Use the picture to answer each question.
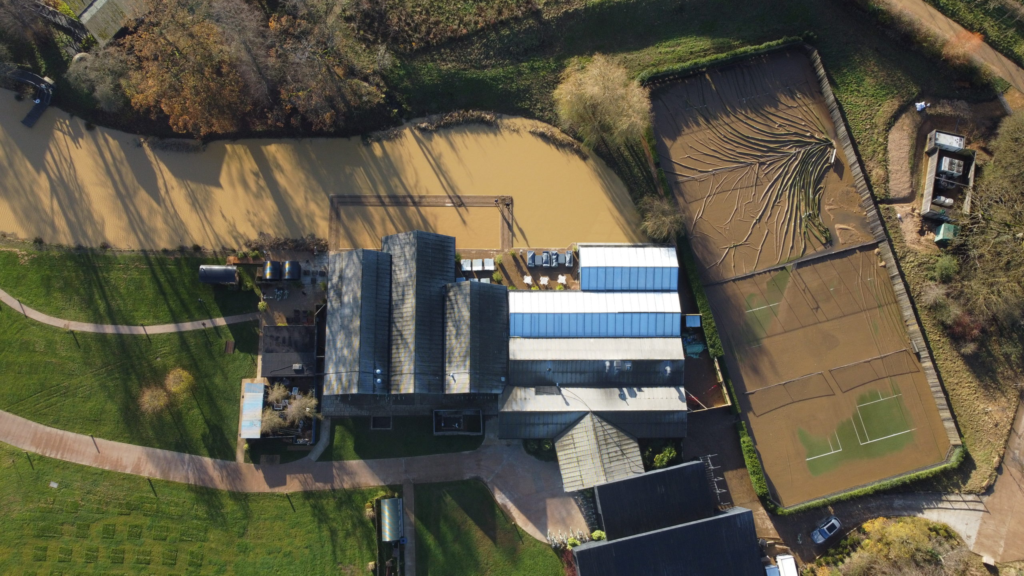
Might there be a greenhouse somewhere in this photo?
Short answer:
Yes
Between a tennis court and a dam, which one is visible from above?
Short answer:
tennis court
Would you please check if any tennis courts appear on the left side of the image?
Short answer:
No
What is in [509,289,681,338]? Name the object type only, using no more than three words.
greenhouse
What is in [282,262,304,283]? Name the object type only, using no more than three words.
shed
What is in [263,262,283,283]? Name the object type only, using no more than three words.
shed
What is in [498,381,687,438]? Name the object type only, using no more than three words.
building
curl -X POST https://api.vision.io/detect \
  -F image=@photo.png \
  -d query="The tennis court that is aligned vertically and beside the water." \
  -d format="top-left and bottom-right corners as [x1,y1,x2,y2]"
[643,47,951,505]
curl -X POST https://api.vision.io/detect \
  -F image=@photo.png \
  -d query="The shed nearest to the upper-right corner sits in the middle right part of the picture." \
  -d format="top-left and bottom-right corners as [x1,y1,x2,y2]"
[930,223,954,244]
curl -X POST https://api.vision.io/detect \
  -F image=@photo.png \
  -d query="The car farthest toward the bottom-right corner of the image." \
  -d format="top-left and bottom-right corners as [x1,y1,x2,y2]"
[810,516,842,544]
